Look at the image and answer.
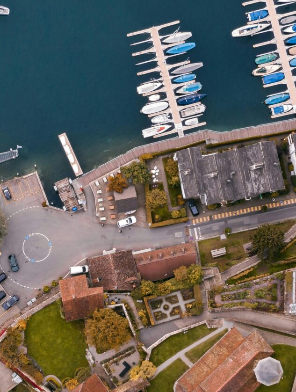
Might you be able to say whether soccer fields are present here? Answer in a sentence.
No, I can see no soccer field in this picture.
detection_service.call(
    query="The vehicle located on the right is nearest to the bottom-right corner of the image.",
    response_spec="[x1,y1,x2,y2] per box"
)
[185,198,200,218]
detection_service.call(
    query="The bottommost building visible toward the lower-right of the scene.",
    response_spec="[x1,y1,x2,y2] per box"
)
[175,328,283,392]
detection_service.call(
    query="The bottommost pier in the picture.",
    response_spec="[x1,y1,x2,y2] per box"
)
[53,178,83,209]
